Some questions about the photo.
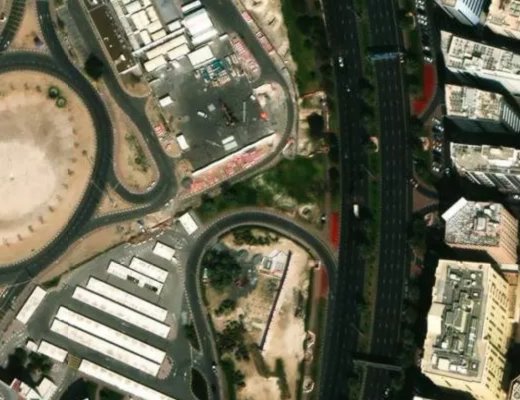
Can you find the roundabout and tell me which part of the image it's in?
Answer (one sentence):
Look in the left portion of the view to spot the roundabout.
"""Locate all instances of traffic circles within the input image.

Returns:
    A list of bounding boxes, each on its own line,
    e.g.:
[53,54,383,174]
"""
[0,54,110,282]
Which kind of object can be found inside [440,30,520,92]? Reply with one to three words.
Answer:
building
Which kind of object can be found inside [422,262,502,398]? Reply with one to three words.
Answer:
building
